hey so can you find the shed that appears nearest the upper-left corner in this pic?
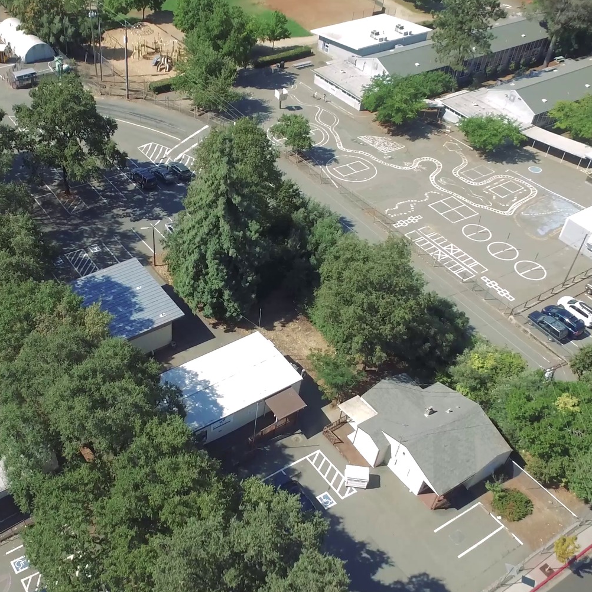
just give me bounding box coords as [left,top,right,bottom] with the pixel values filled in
[0,16,51,63]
